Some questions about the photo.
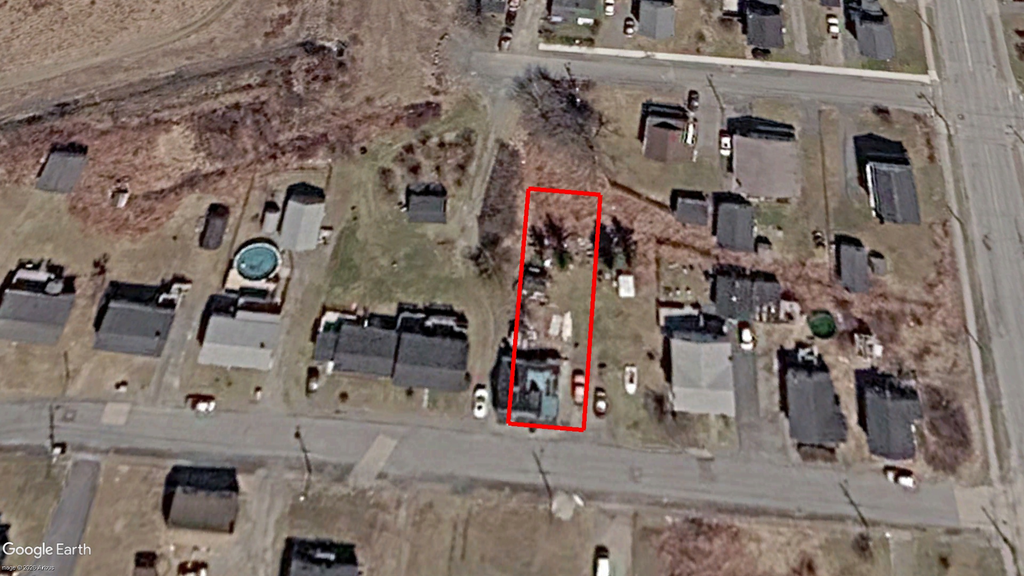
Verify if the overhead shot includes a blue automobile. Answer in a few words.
No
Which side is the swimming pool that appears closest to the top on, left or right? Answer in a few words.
left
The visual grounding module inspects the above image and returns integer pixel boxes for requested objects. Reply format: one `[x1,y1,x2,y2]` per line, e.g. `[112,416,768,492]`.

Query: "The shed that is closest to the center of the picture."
[524,267,545,291]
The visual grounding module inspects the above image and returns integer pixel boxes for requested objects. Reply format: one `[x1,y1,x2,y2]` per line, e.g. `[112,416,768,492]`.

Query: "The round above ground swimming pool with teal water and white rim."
[232,240,280,280]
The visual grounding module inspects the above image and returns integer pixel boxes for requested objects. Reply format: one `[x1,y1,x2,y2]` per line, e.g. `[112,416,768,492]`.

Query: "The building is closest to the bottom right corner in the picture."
[867,387,919,459]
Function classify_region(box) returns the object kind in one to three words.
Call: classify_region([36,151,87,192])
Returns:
shed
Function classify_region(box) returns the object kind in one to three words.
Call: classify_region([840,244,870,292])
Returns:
building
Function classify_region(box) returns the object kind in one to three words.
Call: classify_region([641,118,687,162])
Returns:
house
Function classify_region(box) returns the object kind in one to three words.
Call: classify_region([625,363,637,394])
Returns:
boat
